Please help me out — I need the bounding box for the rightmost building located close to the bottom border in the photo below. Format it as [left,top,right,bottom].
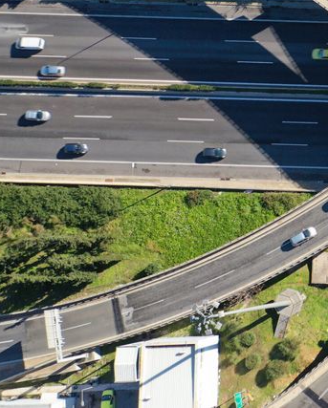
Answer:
[139,332,233,408]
